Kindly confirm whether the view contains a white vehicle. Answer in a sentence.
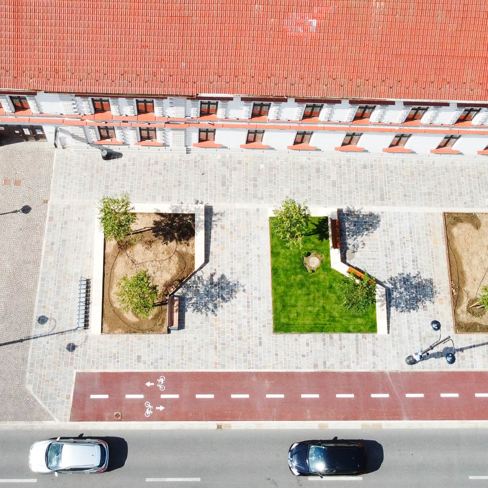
Yes, there's a white vehicle down there.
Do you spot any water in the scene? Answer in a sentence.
No, the picture contains no water.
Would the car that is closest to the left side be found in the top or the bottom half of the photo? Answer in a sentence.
Seen from above, the car that is closest to the left side lies in the bottom half of the view.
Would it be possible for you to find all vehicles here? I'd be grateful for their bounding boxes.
[28,434,108,479]
[285,437,366,480]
